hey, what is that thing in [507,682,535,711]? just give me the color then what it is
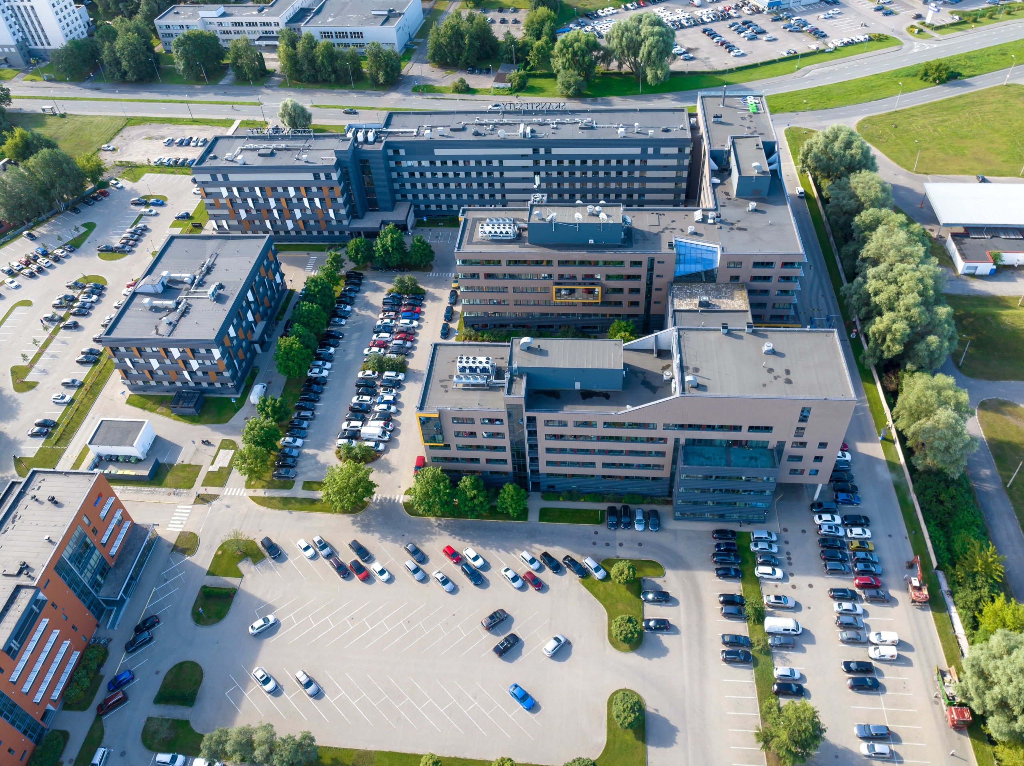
blue car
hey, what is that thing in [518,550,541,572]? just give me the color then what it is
white car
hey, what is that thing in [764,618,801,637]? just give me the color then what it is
white vehicle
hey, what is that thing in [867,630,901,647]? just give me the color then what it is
white vehicle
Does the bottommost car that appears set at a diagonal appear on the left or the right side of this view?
left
